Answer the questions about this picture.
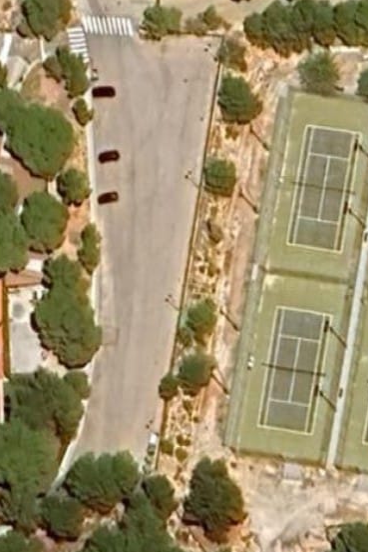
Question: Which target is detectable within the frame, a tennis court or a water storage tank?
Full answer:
It is a tennis court that can be seen here.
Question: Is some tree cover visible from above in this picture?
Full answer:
Yes, tree cover can be seen from above here.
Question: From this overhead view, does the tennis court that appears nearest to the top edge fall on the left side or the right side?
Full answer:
The tennis court that appears nearest to the top edge is on the right side of the image.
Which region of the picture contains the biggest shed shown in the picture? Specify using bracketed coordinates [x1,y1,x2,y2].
[5,272,41,291]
